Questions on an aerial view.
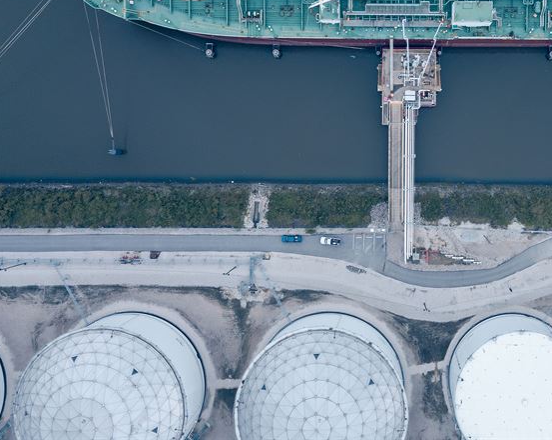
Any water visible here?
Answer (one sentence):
Yes, the picture does contain water.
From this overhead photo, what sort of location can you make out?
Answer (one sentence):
This looks like an industrial area.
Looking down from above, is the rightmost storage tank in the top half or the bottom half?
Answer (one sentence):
The rightmost storage tank is in the bottom half of the image.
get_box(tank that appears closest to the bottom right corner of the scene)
[448,314,552,440]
